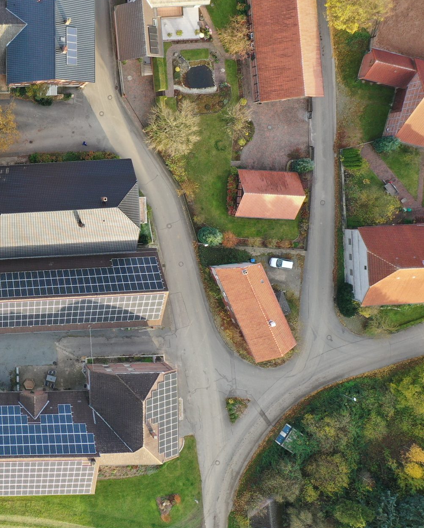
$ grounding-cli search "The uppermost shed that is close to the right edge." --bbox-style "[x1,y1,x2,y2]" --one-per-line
[355,48,420,89]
